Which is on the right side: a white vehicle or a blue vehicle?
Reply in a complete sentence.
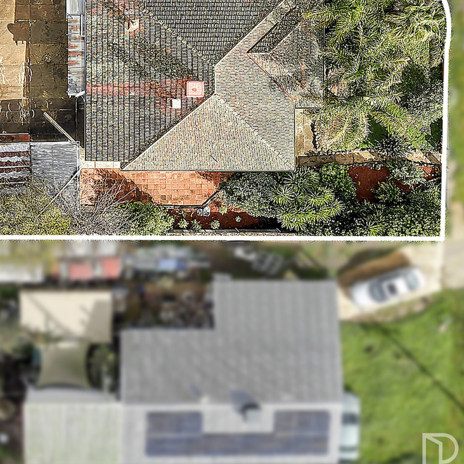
There is a white vehicle on the right side.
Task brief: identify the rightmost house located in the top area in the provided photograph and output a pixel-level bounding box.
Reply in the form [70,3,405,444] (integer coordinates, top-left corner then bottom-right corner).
[74,0,326,171]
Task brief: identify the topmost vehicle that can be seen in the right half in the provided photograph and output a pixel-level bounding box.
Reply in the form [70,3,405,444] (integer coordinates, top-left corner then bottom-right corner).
[349,263,426,311]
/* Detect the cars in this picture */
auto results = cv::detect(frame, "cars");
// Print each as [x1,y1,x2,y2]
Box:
[349,263,426,311]
[340,389,362,463]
